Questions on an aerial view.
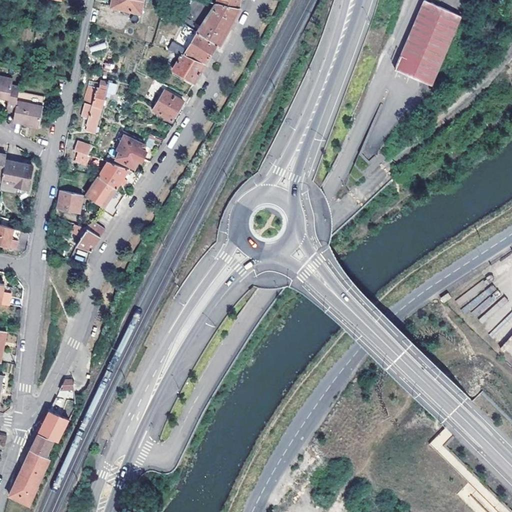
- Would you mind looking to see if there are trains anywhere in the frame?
Yes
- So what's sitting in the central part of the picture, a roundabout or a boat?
roundabout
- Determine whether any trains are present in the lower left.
Yes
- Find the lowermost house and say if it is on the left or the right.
left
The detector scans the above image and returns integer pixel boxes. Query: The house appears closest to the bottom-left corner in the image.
[7,452,50,509]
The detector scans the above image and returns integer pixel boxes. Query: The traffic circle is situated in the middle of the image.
[203,149,332,288]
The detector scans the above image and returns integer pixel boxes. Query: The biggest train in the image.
[52,308,140,488]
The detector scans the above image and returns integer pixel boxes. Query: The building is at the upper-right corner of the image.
[396,0,463,86]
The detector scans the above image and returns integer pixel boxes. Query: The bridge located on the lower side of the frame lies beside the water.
[292,247,512,488]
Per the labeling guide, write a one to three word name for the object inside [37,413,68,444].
house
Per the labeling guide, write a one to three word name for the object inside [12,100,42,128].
house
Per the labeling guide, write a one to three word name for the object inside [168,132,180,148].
vehicle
